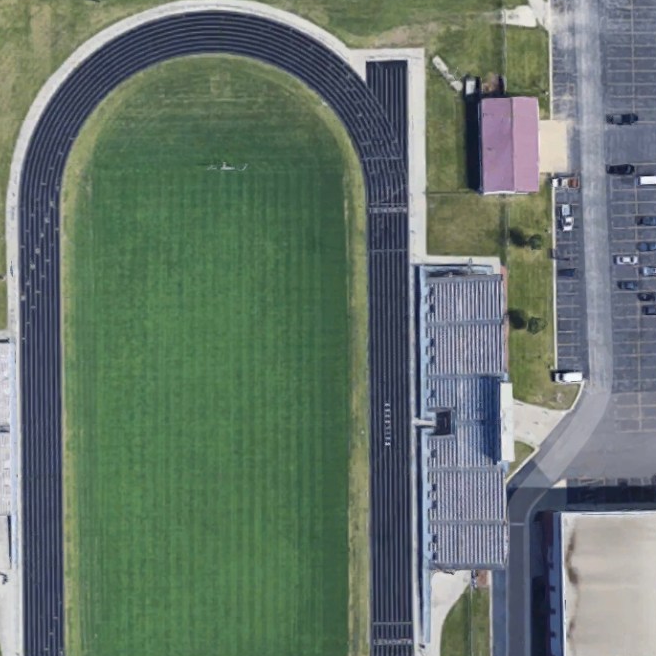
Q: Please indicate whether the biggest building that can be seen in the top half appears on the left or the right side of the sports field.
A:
on the right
